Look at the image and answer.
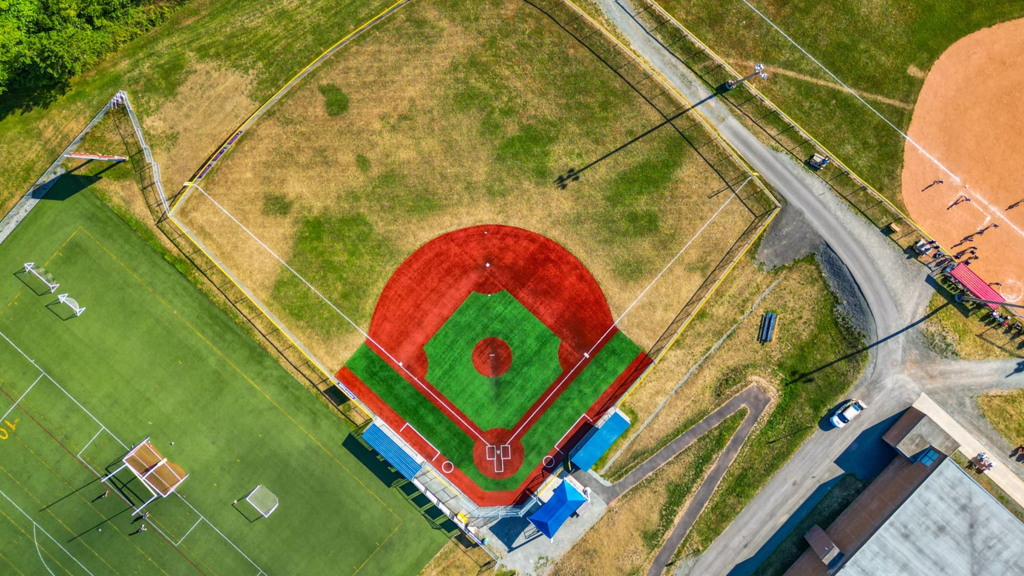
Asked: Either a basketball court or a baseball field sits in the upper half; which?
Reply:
baseball field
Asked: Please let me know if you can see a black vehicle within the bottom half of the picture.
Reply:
No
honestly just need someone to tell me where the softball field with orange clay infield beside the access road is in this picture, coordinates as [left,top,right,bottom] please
[649,0,1024,326]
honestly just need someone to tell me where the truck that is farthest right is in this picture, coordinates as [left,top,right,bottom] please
[827,395,869,427]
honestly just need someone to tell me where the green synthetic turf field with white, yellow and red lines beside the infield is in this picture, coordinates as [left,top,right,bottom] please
[0,172,457,576]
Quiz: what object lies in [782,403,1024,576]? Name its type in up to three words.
building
